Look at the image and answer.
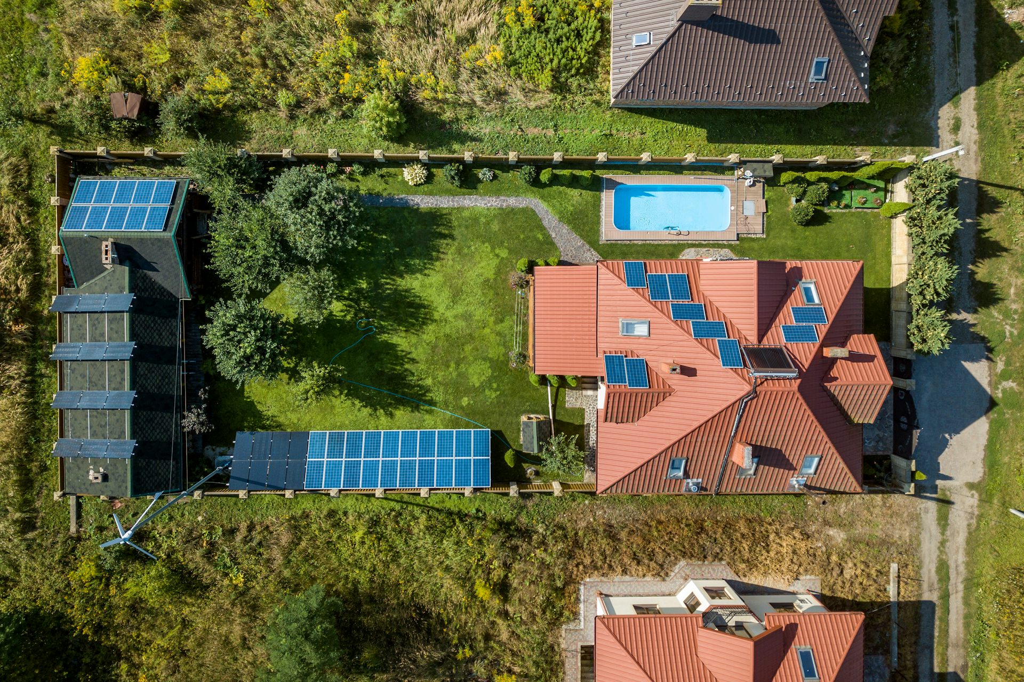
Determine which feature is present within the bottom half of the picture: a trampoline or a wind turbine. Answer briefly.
wind turbine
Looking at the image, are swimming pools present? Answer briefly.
Yes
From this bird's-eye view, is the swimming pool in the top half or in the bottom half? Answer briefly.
top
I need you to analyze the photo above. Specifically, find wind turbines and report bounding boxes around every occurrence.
[88,461,233,555]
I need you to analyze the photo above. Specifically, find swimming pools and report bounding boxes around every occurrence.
[612,183,732,232]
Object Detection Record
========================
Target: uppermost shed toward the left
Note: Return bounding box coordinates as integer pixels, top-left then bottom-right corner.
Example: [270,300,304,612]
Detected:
[110,93,151,123]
